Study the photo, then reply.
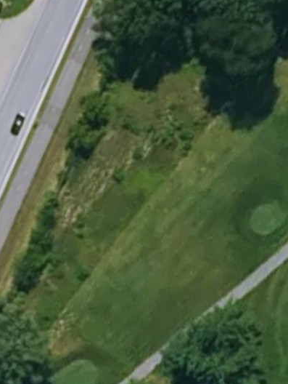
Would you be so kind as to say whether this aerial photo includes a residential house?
No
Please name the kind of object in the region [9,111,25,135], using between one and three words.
car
